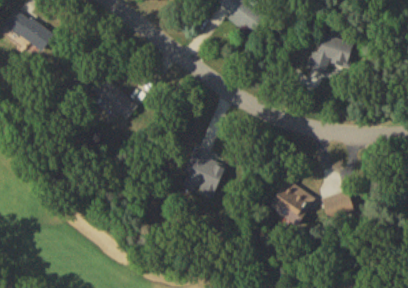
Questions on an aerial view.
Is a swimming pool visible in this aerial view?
No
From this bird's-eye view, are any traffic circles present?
No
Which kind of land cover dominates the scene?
trees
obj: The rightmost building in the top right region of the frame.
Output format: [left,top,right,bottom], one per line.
[312,39,354,67]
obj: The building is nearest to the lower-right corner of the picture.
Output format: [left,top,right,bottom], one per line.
[322,195,354,218]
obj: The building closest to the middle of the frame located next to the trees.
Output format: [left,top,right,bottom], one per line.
[193,154,228,194]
